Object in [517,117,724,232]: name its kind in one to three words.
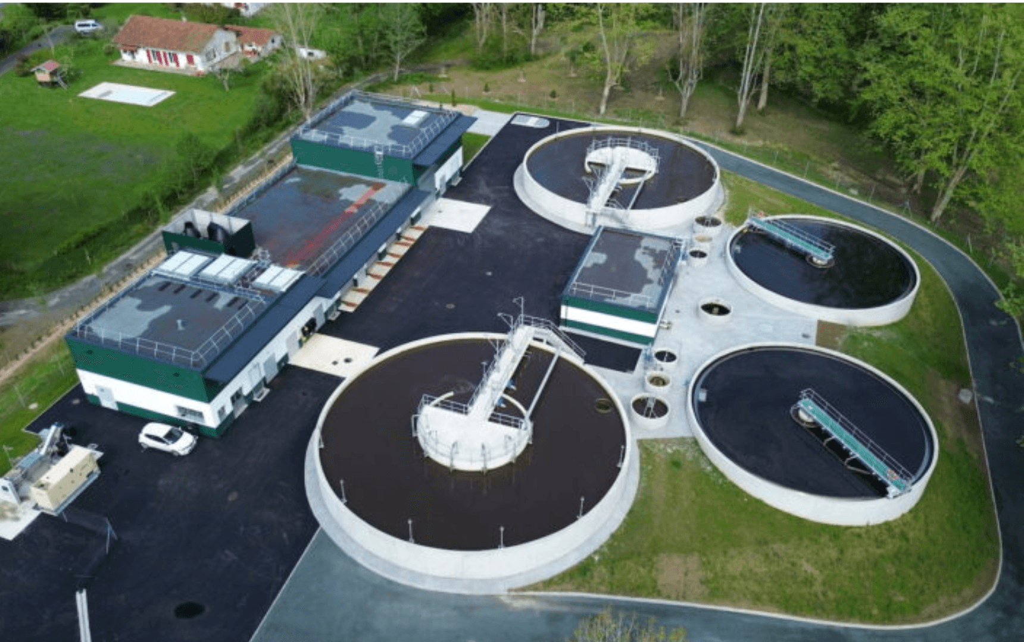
storage tank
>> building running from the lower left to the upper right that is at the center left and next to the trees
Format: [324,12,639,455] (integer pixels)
[59,91,480,438]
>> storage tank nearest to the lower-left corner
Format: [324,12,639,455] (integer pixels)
[305,297,640,591]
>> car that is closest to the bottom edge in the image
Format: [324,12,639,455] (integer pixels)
[132,421,193,456]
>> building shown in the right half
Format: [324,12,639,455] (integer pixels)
[558,225,691,347]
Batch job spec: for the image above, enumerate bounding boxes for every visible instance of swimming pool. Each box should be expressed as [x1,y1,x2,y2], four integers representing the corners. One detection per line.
[78,81,176,106]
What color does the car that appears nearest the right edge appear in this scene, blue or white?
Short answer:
white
